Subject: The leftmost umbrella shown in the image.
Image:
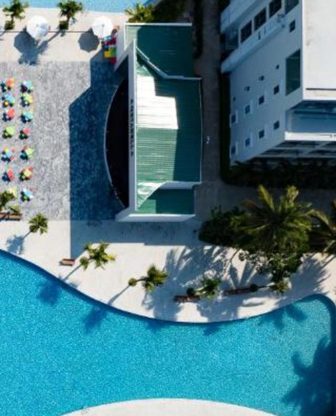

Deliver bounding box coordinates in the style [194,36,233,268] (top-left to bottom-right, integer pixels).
[27,18,48,39]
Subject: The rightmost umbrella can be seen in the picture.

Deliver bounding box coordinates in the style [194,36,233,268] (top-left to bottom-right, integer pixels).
[93,17,114,38]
